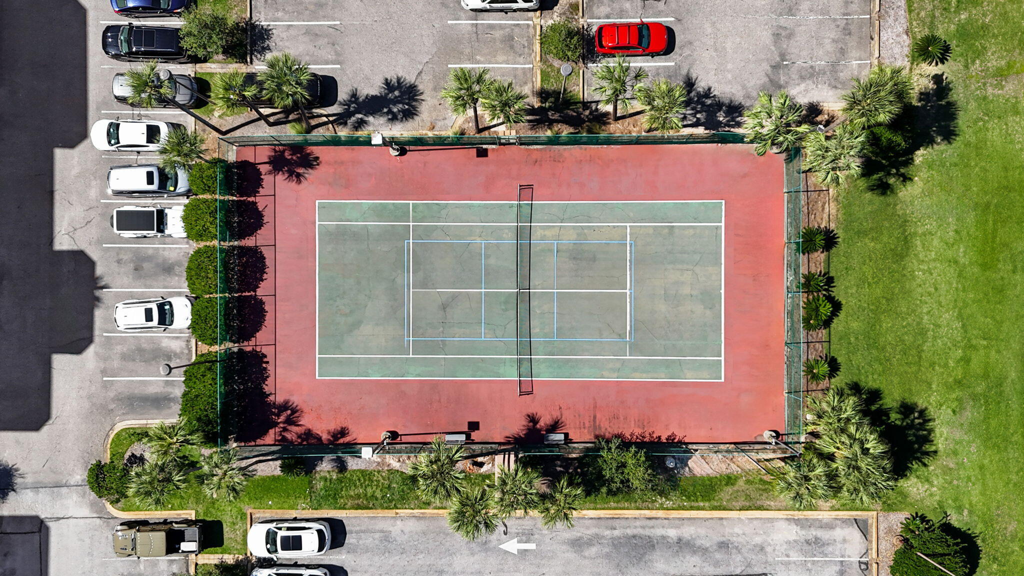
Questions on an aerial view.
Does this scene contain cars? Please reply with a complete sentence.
Yes, I can see a car in this picture.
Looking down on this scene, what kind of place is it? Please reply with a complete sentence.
The area seen from above is a sports ground.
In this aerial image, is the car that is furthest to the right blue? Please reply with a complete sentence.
No, the color of the car that is furthest to the right is red.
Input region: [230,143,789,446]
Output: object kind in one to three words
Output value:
tennis court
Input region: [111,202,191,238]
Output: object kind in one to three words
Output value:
car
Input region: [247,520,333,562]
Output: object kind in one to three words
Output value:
car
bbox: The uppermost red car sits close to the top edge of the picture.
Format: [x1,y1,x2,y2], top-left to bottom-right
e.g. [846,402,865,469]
[593,15,669,55]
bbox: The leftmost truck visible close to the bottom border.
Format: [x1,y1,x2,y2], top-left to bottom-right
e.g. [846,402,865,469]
[113,521,206,561]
